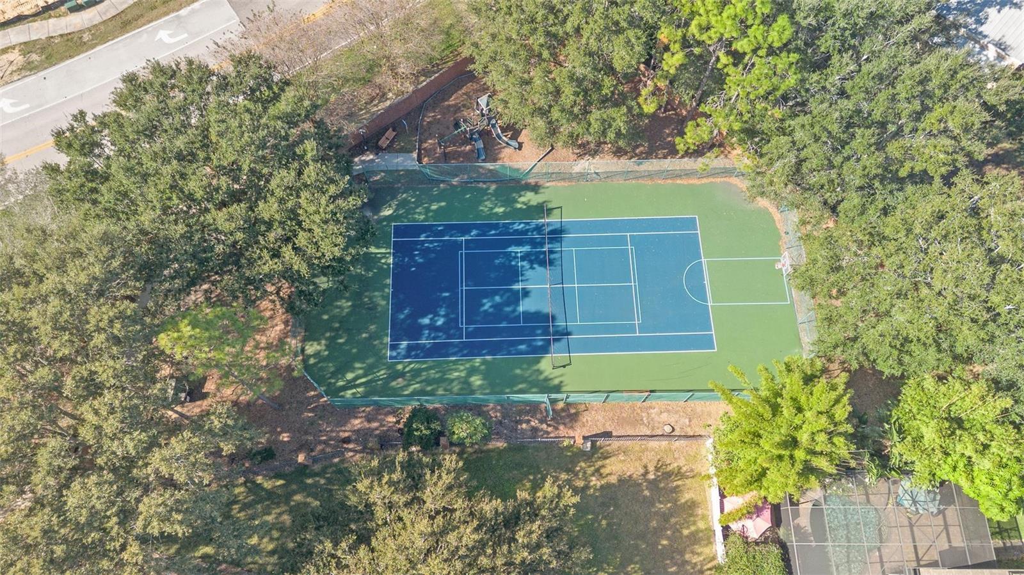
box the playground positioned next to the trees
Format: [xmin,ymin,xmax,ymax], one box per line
[434,102,515,159]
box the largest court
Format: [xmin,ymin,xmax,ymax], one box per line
[301,180,802,401]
